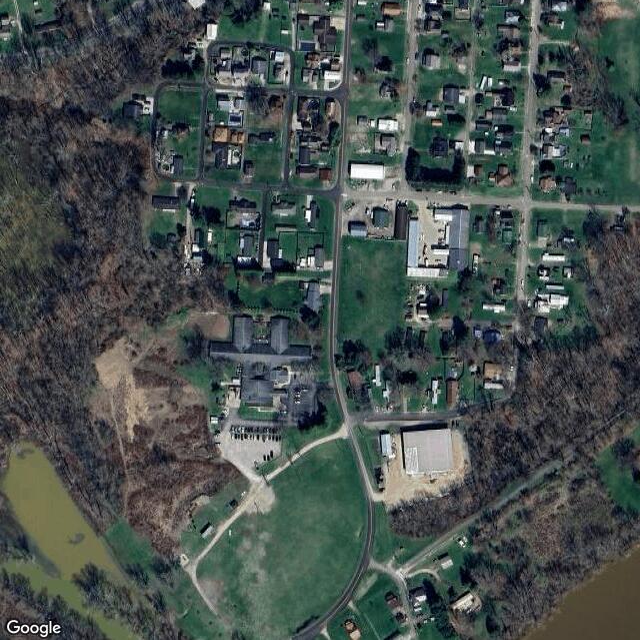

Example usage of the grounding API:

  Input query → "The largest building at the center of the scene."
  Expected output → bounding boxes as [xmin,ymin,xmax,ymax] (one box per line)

[209,317,312,405]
